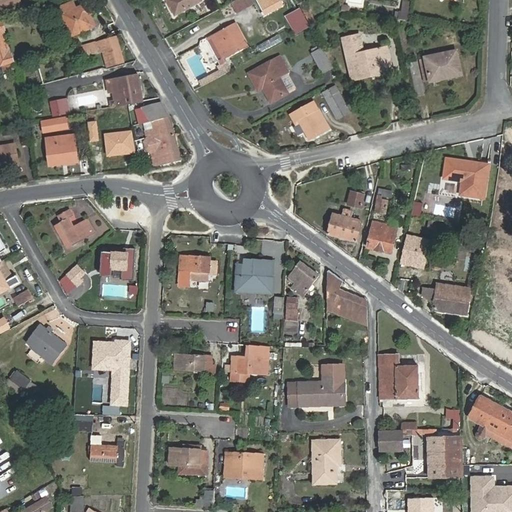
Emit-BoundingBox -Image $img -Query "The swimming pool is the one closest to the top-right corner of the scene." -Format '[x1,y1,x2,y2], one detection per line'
[433,203,459,218]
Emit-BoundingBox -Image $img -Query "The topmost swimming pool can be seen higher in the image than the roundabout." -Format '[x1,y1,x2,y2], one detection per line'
[186,52,207,78]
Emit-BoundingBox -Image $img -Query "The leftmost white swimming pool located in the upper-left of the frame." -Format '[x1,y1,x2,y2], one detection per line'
[76,93,98,107]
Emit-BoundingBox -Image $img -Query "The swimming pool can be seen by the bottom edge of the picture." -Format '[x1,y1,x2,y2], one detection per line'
[225,486,246,500]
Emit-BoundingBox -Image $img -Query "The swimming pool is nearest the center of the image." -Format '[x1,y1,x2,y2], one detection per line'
[250,306,265,334]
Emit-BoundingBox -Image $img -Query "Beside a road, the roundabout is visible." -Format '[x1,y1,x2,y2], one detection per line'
[189,148,267,226]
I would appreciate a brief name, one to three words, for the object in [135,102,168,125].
building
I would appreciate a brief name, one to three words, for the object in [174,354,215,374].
house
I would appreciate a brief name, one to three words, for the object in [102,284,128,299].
swimming pool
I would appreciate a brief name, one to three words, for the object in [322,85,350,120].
shed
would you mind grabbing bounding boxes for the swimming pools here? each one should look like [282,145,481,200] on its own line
[102,284,128,299]
[250,306,265,334]
[186,52,207,78]
[92,384,102,402]
[76,93,98,107]
[433,203,459,218]
[225,486,246,500]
